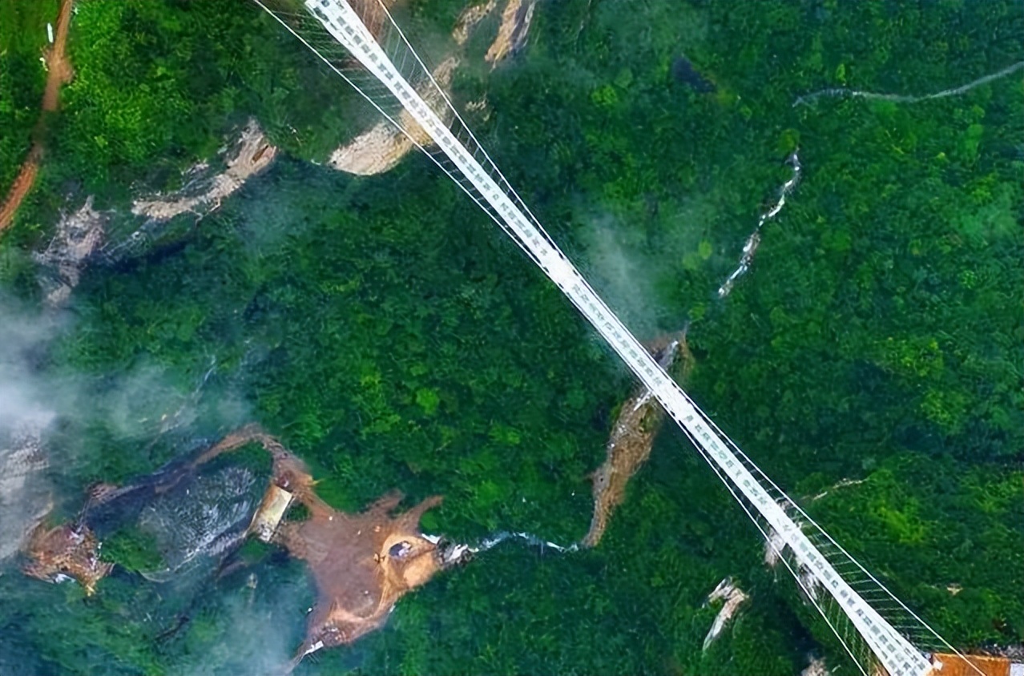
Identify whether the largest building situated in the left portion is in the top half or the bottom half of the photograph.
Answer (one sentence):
Seen from above, the largest building situated in the left portion lies in the bottom half of the view.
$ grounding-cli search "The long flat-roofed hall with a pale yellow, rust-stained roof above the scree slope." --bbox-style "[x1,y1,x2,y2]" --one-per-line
[248,486,291,544]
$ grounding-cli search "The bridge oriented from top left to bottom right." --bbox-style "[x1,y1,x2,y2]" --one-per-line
[259,0,993,676]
